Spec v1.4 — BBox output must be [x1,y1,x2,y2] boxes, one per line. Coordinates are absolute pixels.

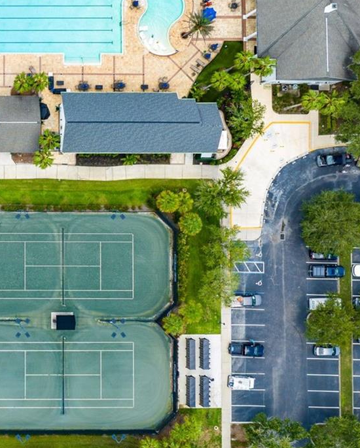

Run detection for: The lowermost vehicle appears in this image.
[226,375,258,390]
